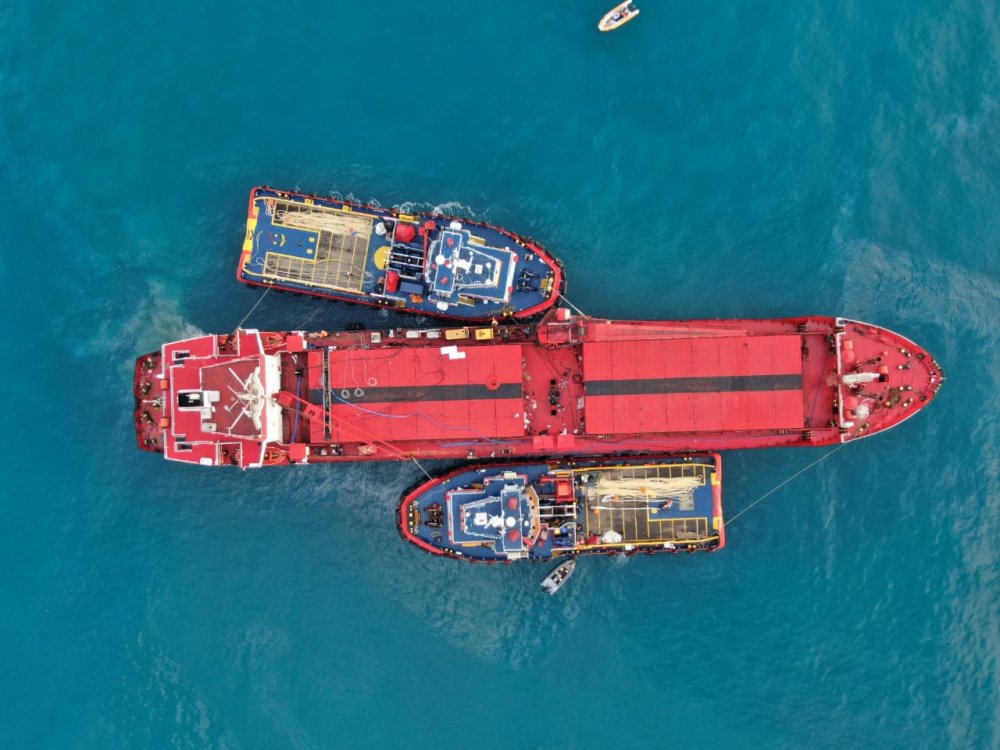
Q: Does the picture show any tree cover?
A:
No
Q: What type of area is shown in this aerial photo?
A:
port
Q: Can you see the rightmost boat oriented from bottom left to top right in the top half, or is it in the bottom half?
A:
top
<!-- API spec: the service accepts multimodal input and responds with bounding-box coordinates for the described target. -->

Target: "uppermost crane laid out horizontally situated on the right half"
[536,309,754,348]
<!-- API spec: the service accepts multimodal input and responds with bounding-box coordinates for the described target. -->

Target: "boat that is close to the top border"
[599,0,641,30]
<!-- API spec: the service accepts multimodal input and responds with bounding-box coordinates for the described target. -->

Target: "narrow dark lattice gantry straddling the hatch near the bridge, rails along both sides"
[322,344,340,441]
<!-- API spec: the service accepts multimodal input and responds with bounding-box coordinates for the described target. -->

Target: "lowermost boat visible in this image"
[538,559,577,596]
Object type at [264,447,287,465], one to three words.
boat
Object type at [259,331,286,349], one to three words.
boat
